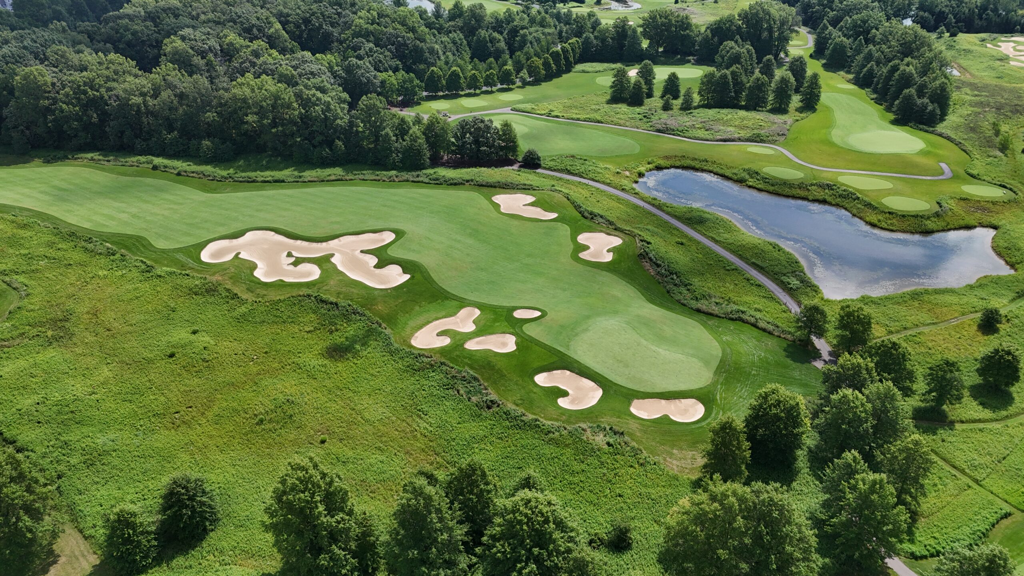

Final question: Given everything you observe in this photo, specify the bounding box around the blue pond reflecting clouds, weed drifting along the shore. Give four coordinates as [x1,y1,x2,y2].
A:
[636,168,1015,300]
